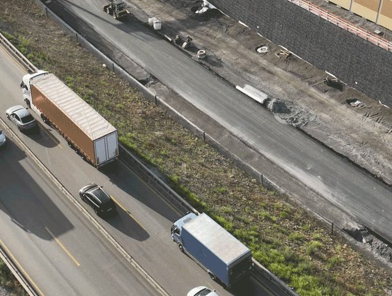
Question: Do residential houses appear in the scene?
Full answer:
No, the frame has no residential house in it.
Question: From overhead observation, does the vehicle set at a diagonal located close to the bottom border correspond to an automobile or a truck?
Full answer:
Specifically, the vehicle set at a diagonal located close to the bottom border is a truck.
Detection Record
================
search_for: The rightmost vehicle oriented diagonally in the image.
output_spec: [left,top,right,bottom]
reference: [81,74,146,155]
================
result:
[167,204,249,285]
